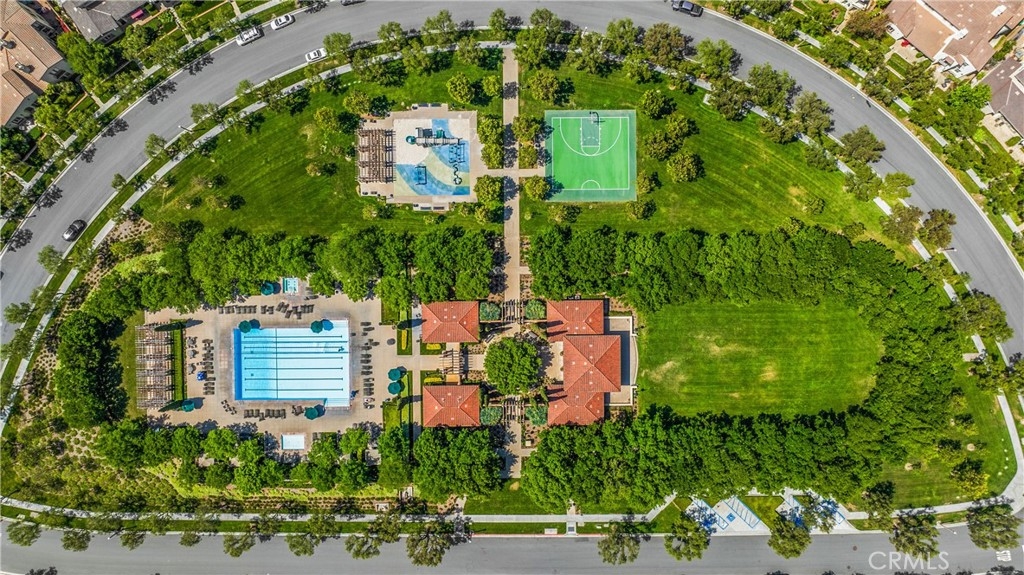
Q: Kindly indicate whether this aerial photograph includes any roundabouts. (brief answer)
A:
No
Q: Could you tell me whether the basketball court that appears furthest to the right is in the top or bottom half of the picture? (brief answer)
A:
top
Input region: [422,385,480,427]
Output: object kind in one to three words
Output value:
building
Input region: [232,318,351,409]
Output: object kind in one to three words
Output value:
swimming pool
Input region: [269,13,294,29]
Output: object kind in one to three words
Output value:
car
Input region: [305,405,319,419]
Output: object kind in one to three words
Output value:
umbrella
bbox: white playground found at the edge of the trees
[360,104,477,211]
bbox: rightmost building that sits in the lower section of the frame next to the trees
[547,294,639,426]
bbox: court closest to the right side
[546,110,636,201]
